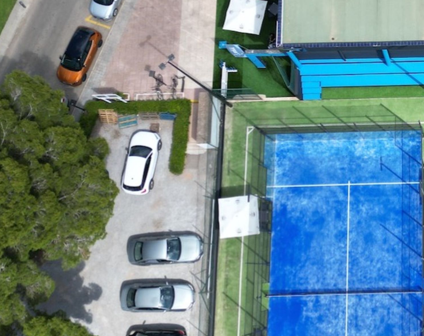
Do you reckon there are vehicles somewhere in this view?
Yes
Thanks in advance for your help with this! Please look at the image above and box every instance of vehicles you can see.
[54,26,102,88]
[119,279,198,316]
[119,130,161,196]
[86,0,118,21]
[127,233,205,268]
[129,328,187,336]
